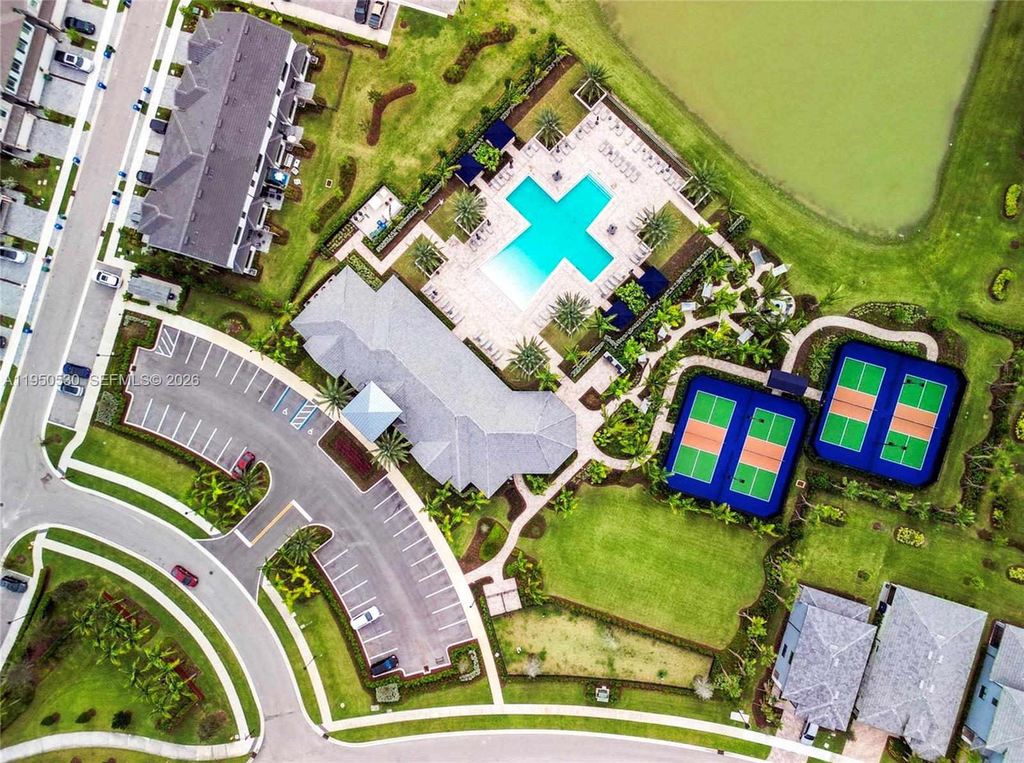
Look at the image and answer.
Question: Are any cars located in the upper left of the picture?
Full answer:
Yes, the scene does show a car in the upper left of the picture.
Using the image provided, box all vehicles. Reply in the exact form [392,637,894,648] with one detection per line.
[63,15,97,35]
[124,209,141,224]
[798,718,819,748]
[368,654,401,677]
[144,116,169,134]
[370,0,389,29]
[0,248,28,266]
[121,0,139,17]
[232,450,257,479]
[350,605,382,629]
[56,380,87,397]
[132,168,158,188]
[62,362,93,379]
[53,49,95,73]
[90,269,125,288]
[353,0,370,26]
[0,574,29,592]
[170,564,200,589]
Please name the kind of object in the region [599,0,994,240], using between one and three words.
pond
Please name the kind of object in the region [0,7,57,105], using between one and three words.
house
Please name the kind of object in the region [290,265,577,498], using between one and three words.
building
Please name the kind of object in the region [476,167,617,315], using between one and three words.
swimming pool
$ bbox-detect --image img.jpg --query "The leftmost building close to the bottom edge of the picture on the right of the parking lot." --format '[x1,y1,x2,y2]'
[768,584,877,732]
